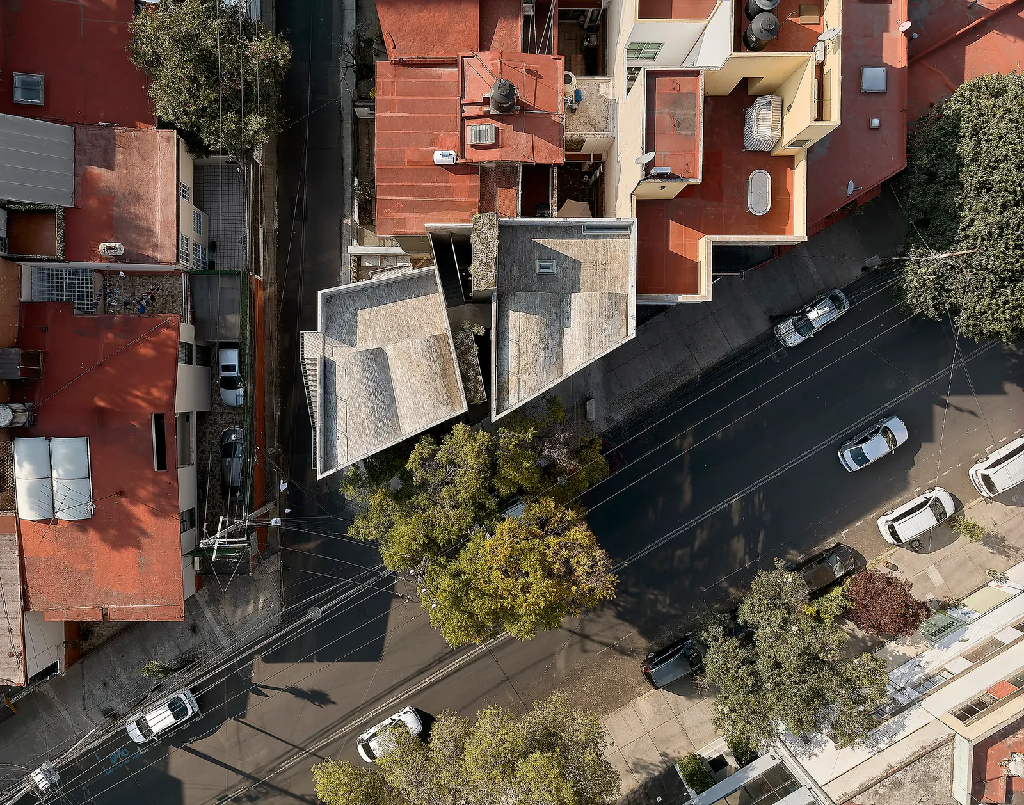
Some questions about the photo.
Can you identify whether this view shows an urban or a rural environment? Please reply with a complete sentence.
This place is urban.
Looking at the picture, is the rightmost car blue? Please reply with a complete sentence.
No, the rightmost car is white.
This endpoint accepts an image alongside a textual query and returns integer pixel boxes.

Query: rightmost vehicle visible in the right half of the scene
[967,435,1024,495]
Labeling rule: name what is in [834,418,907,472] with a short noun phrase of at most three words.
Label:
car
